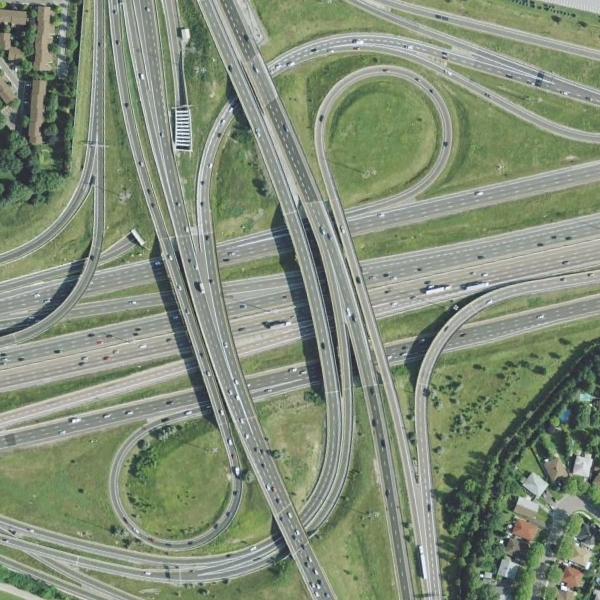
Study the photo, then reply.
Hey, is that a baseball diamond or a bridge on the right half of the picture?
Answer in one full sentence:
The feature located on the right half of the picture is a bridge.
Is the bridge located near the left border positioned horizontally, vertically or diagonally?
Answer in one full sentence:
The bridge located near the left border is oriented diagonally.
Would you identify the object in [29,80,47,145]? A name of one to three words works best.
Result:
house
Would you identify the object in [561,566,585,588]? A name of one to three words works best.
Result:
house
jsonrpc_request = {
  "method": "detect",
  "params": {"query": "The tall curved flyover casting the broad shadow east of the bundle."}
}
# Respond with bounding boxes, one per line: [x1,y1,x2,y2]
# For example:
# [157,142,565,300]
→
[417,301,476,384]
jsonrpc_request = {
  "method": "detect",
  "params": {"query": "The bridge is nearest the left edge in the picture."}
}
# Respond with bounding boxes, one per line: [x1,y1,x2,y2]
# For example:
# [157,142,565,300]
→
[12,244,102,345]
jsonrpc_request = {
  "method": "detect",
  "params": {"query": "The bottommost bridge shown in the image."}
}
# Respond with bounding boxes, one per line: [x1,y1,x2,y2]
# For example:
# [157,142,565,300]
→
[271,500,312,557]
